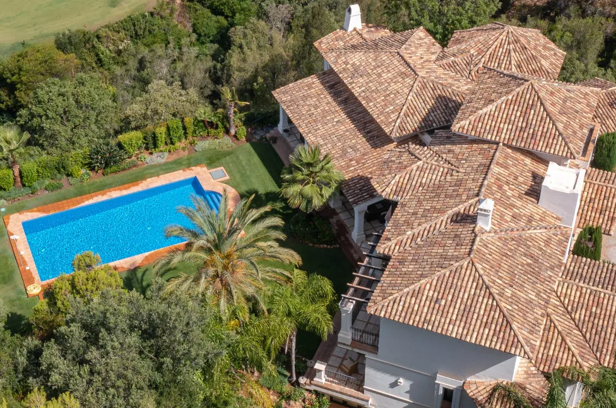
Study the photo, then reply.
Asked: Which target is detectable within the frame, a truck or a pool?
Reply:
pool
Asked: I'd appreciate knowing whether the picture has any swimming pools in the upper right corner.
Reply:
No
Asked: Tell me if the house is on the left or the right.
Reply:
right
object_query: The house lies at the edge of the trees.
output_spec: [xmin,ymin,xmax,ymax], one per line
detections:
[267,2,616,408]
